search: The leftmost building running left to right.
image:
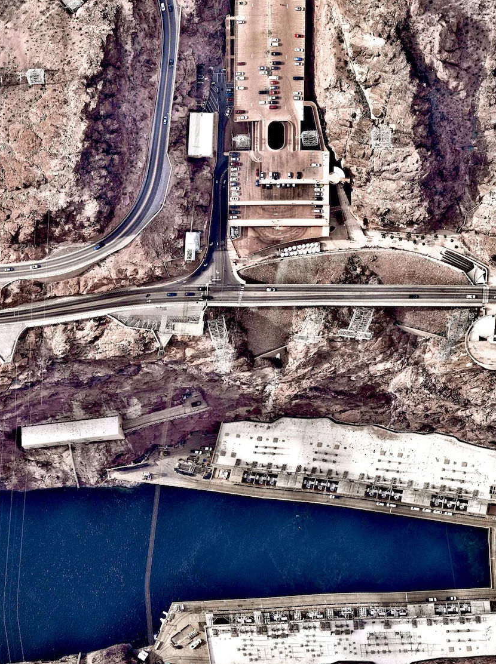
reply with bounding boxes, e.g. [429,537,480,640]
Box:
[21,417,128,452]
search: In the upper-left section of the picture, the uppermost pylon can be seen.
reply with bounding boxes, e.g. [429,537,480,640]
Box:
[26,68,43,89]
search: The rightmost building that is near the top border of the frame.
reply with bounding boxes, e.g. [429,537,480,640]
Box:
[225,0,342,257]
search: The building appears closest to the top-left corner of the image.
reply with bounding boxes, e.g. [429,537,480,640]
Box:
[189,112,218,158]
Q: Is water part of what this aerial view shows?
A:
Yes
